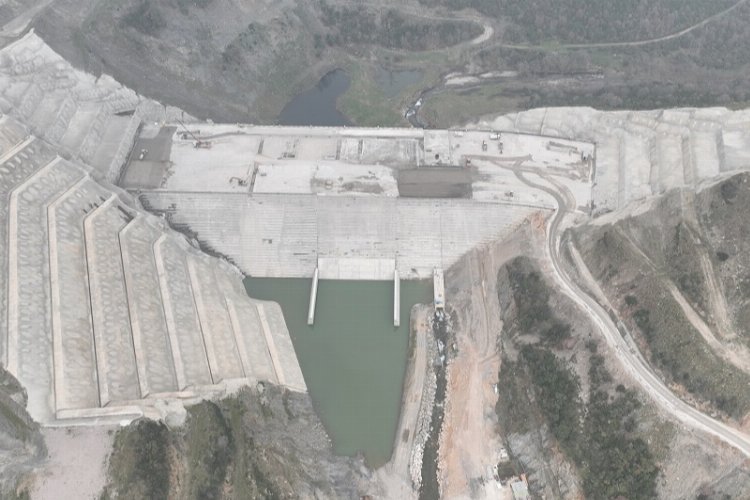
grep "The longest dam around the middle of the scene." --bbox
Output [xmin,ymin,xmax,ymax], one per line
[119,119,595,329]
